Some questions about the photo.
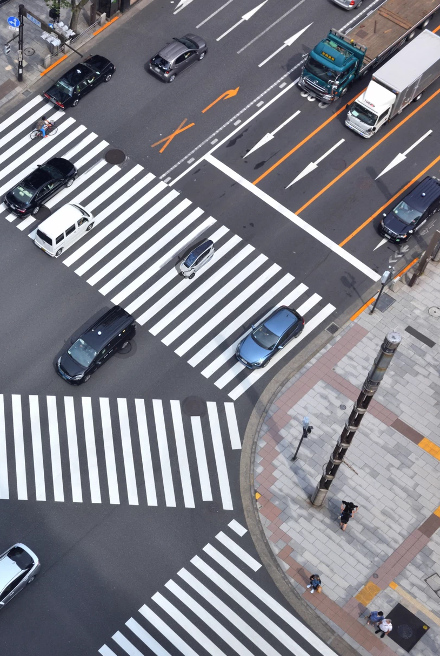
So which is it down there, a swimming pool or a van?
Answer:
van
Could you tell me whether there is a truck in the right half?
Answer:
Yes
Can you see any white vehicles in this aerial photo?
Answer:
Yes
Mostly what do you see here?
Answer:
paved ground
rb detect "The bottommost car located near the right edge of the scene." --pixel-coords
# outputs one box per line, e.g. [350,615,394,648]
[381,178,440,246]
